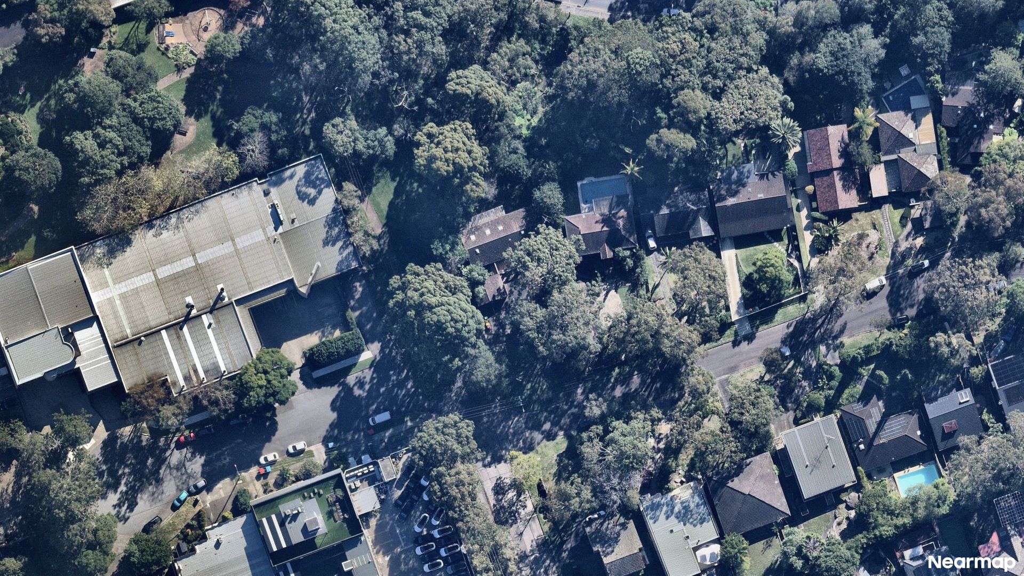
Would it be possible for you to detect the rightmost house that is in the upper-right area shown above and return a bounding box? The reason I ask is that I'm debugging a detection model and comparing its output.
[941,86,1008,164]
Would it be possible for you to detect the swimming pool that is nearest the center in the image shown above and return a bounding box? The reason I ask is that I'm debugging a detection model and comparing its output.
[577,175,633,214]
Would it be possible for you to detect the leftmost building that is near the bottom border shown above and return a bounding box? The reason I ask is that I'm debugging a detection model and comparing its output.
[176,511,275,576]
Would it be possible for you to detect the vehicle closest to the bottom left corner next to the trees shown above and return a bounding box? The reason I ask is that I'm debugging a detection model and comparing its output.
[143,516,161,531]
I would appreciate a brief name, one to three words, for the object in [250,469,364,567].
building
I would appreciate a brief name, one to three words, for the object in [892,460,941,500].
swimming pool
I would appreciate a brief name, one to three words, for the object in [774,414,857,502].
house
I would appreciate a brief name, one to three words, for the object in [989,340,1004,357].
car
